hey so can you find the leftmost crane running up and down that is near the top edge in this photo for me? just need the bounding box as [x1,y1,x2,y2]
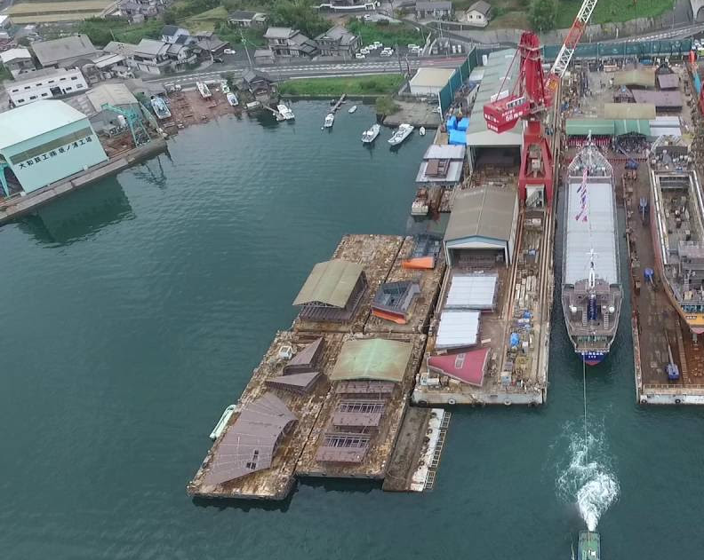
[481,0,605,214]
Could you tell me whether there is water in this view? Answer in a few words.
Yes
